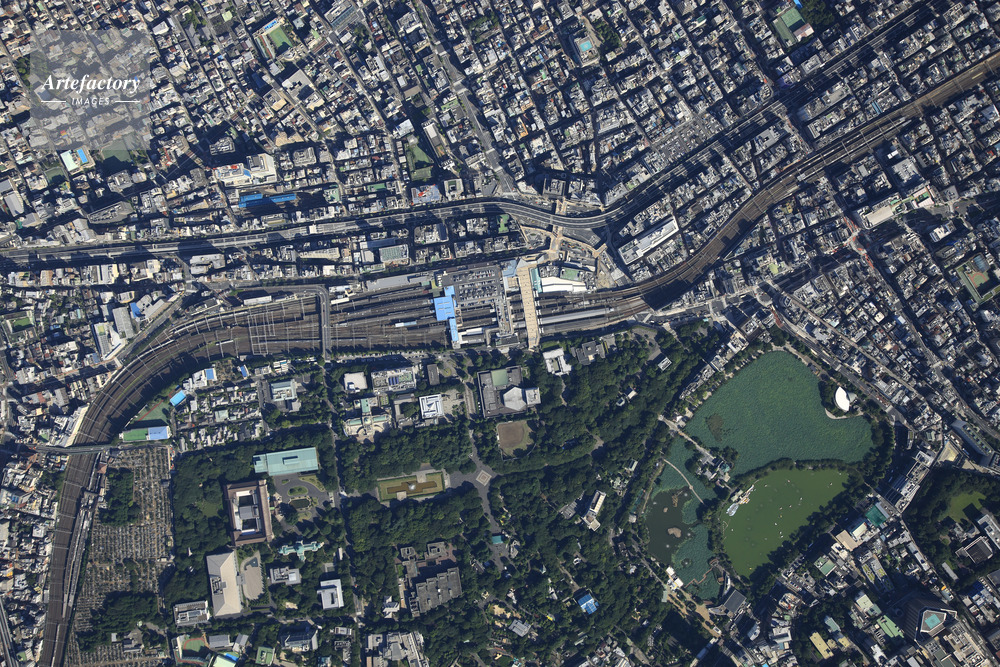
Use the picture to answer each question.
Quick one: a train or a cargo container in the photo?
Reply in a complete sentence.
Looking from above, you can make out a train.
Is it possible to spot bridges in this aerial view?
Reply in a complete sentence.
Yes, the photo shows a bridge.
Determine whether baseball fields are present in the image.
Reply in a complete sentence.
Yes, the frame does contain a baseball field.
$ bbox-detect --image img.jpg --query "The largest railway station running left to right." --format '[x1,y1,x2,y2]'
[268,253,613,350]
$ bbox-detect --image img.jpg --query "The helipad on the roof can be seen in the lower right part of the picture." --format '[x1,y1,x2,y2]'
[925,614,940,628]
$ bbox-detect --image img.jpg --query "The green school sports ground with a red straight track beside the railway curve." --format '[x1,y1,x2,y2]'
[121,400,174,433]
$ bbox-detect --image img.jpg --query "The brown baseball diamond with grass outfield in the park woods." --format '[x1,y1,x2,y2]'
[497,420,539,460]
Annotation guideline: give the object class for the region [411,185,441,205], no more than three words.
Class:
building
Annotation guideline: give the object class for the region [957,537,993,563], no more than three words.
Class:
house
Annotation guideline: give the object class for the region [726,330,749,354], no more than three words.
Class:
building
